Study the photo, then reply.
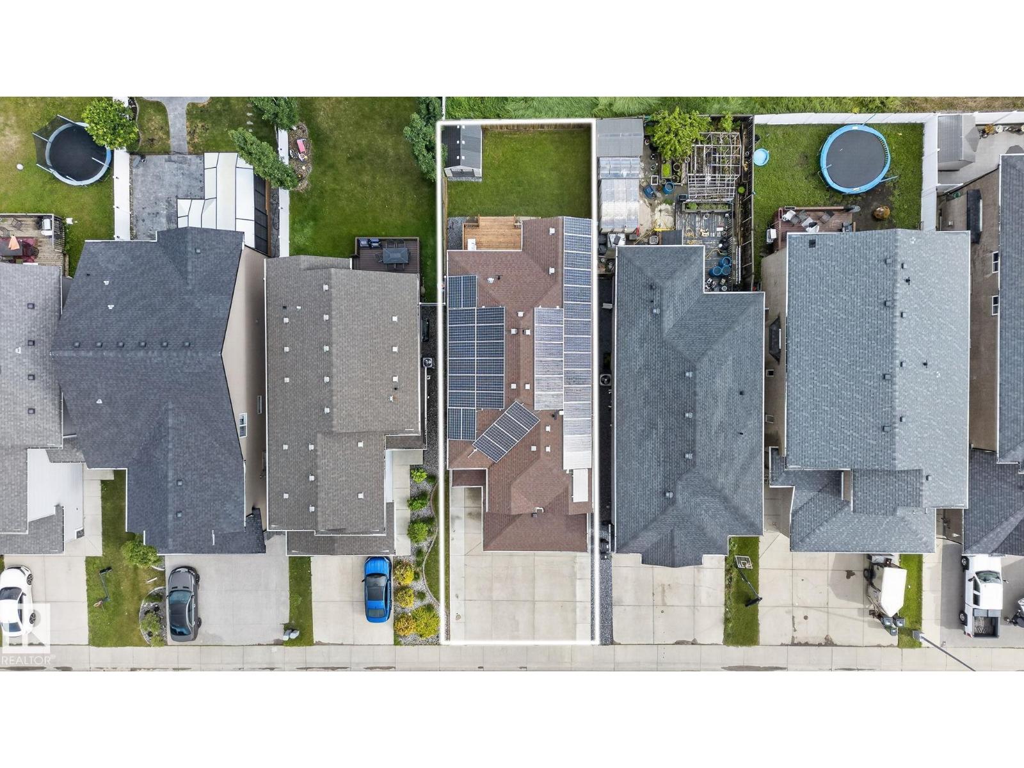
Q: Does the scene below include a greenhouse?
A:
Yes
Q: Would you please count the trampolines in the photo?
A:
2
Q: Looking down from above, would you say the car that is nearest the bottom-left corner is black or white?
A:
white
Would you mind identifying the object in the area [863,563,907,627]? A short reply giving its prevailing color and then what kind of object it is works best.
white trailer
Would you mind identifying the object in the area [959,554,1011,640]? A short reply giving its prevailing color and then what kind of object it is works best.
white truck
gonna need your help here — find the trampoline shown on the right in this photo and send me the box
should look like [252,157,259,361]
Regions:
[815,117,899,195]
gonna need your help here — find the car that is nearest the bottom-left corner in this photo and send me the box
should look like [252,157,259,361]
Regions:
[0,563,38,637]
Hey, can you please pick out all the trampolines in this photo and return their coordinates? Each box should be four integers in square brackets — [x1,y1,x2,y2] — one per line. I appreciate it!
[28,110,114,191]
[815,117,899,195]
